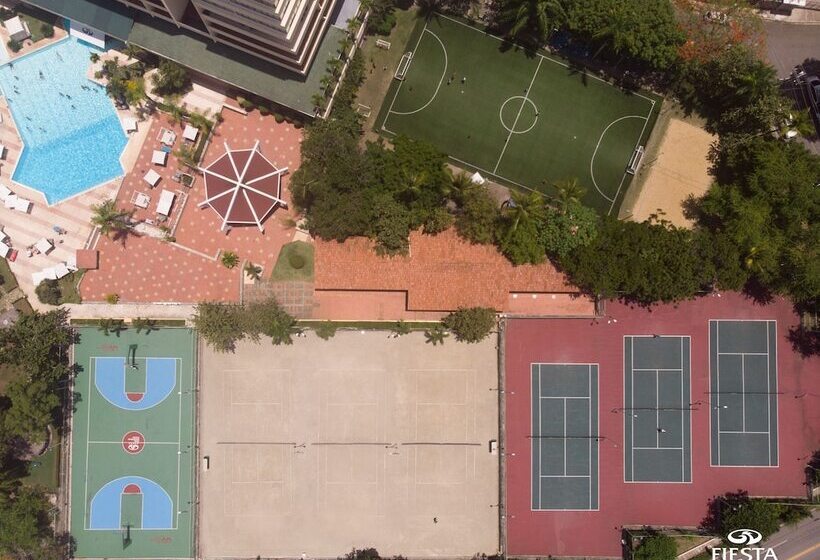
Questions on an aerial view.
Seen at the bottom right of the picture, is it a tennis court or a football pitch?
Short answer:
tennis court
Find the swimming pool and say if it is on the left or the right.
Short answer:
left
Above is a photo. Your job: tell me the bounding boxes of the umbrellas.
[33,272,46,285]
[0,241,17,257]
[42,266,58,280]
[157,189,176,214]
[152,151,168,163]
[123,117,139,129]
[0,183,17,199]
[35,235,57,254]
[5,18,26,35]
[143,170,161,187]
[6,195,19,207]
[54,261,74,277]
[65,254,76,269]
[182,124,199,139]
[15,199,36,214]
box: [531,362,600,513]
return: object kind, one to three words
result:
tennis court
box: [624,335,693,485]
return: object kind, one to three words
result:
tennis court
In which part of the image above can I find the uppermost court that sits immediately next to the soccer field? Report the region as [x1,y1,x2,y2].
[623,116,719,229]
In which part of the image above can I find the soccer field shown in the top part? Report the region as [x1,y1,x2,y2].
[369,9,666,224]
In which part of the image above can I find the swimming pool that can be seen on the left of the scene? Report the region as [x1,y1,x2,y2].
[0,34,130,208]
